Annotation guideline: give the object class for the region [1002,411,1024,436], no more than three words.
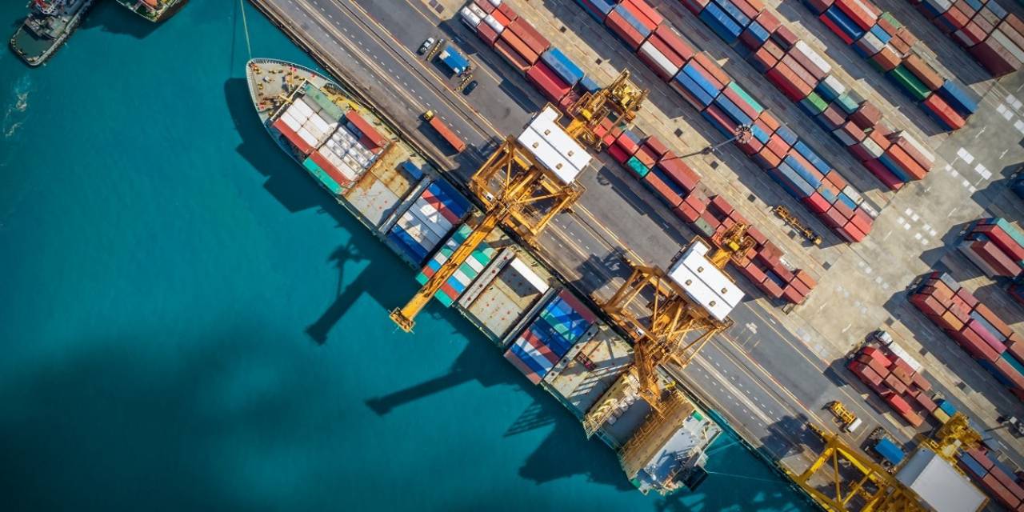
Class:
truck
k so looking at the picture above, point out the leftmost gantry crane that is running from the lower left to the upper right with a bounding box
[396,55,657,331]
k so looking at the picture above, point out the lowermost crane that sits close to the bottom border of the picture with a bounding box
[762,405,996,512]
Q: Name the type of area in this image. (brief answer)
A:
port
